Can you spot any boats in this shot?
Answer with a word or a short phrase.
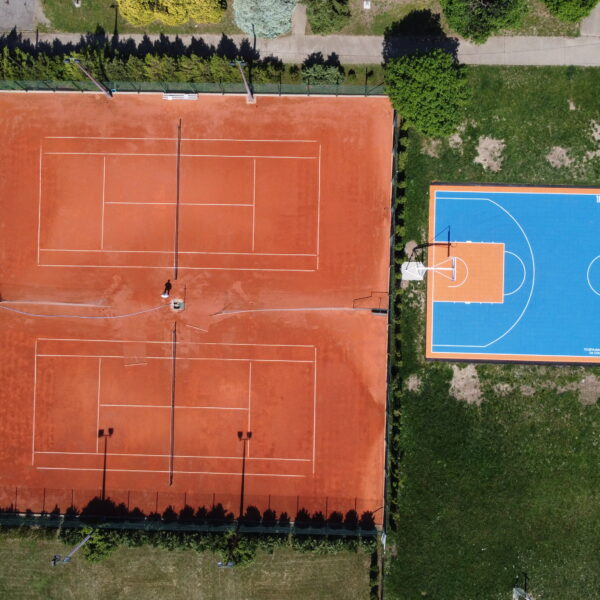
No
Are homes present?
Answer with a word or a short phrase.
No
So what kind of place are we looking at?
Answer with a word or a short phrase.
sports ground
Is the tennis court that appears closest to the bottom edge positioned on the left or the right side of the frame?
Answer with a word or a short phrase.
left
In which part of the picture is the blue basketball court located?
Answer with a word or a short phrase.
right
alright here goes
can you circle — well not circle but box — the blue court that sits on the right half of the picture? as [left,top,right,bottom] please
[427,183,600,366]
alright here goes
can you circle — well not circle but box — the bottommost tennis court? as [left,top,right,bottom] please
[0,301,388,525]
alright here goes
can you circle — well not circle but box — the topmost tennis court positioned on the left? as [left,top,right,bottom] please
[0,91,392,310]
